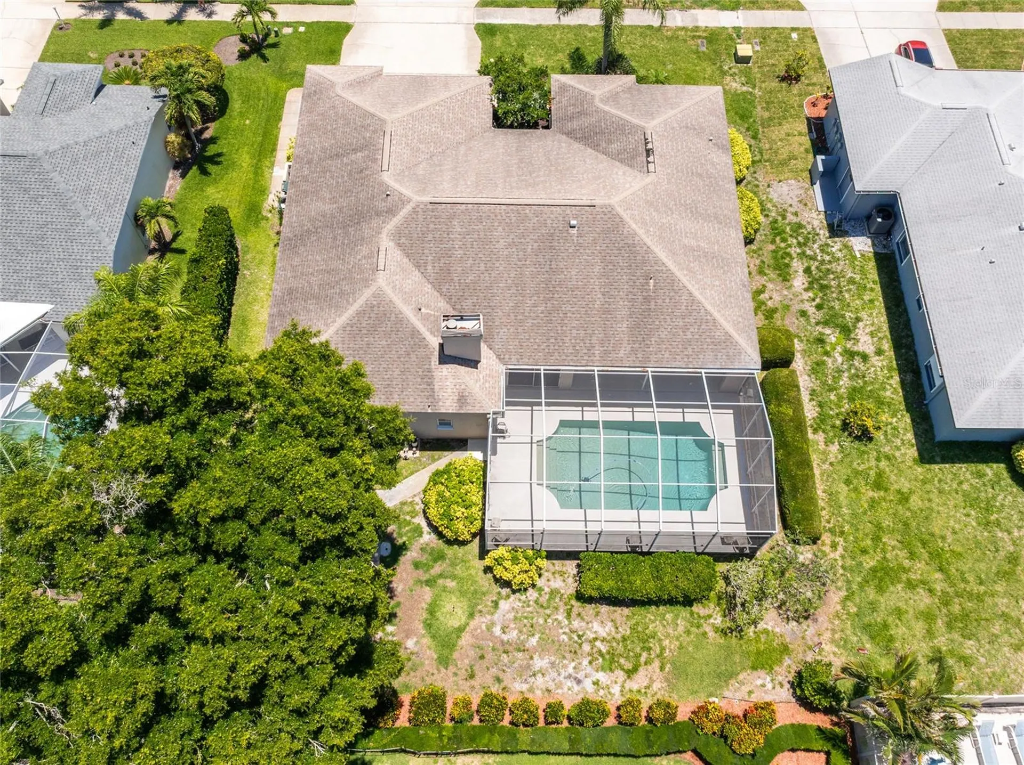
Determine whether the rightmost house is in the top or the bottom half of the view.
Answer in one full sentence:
The rightmost house is in the top half of the image.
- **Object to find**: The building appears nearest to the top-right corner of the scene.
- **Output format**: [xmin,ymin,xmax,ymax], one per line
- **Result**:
[820,51,1024,450]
